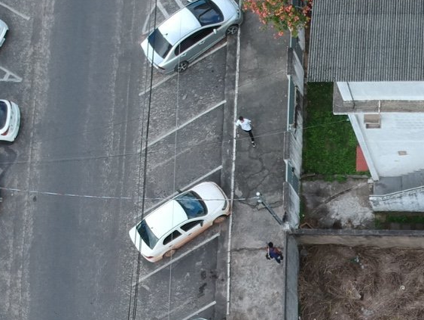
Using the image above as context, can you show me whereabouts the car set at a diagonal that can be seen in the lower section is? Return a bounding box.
[127,181,233,262]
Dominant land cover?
paved ground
